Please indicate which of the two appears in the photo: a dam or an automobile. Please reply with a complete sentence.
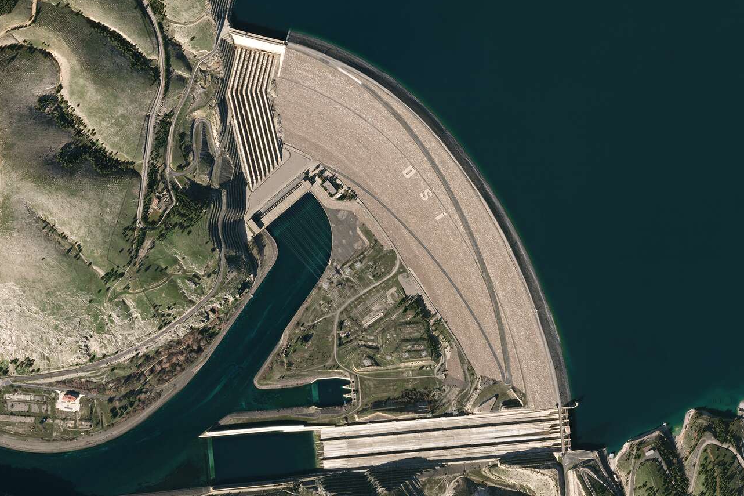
Visible in the photo is a dam.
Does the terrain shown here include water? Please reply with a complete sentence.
Yes, some water is visible.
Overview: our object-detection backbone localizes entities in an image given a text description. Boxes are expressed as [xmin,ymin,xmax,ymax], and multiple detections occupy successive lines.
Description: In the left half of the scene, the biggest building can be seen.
[257,177,313,233]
